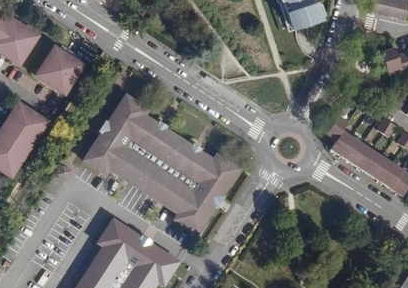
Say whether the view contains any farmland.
No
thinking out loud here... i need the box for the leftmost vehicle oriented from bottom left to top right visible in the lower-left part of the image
[37,268,50,284]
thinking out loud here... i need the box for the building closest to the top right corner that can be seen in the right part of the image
[373,0,408,22]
